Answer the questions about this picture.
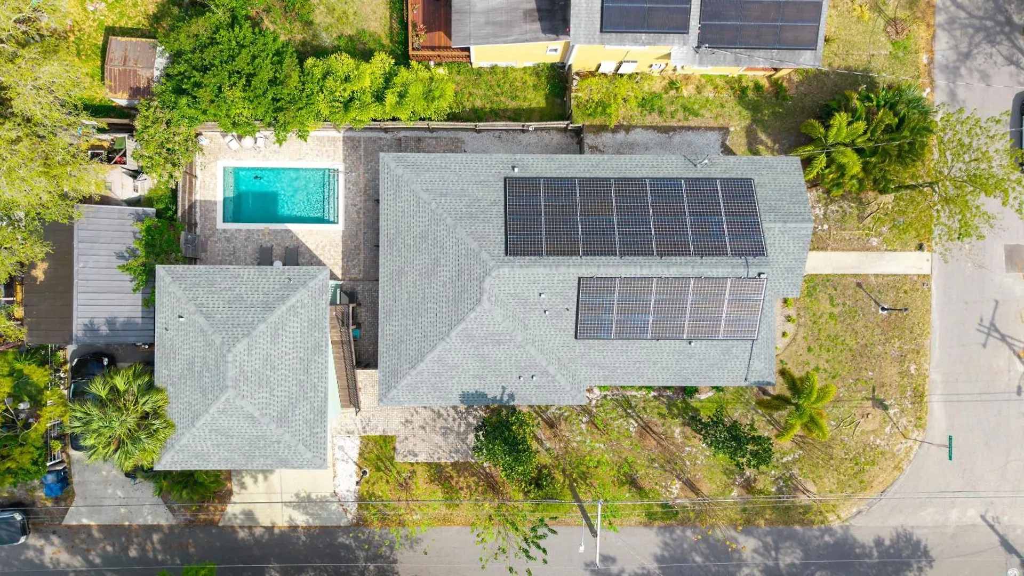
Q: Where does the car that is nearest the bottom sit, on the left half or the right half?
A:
left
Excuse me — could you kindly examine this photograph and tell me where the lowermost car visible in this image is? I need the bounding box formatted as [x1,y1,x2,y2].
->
[0,505,36,545]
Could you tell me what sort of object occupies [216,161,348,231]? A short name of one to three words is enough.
swimming pool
